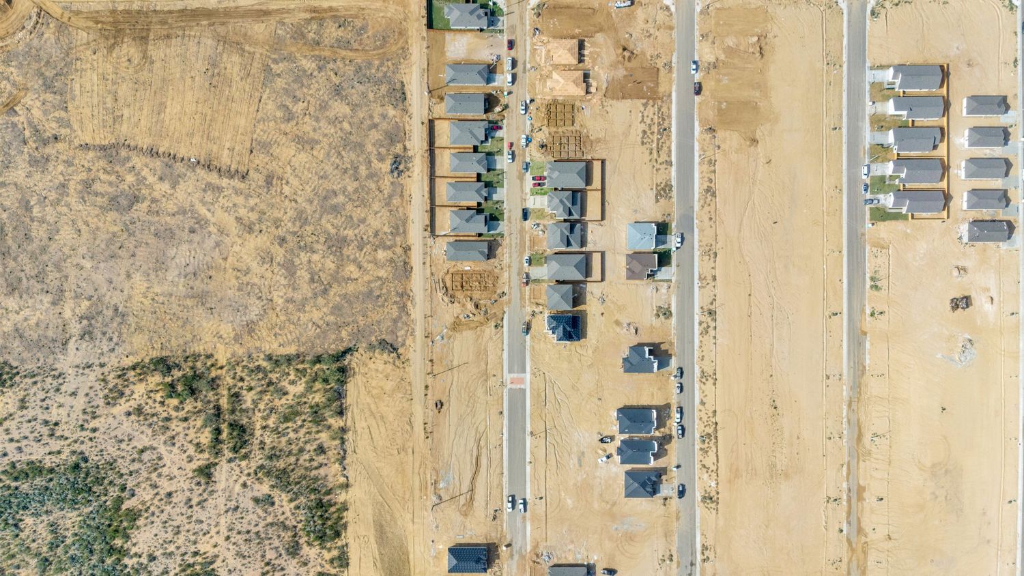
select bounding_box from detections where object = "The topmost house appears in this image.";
[444,3,490,30]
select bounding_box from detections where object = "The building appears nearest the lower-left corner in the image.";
[448,544,488,573]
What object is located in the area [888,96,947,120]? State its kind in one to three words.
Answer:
house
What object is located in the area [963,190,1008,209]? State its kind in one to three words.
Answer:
house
